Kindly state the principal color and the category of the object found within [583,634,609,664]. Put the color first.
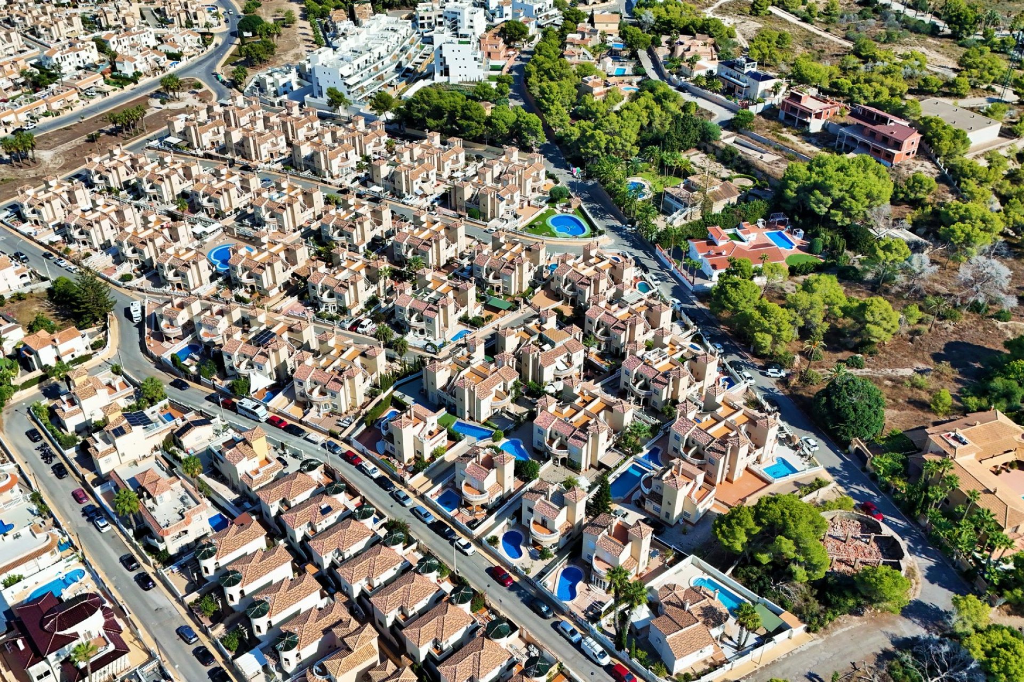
white vehicle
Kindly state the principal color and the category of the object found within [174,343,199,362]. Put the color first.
blue swimming pool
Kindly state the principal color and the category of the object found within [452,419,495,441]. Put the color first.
blue swimming pool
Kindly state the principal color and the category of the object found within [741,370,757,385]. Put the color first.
white car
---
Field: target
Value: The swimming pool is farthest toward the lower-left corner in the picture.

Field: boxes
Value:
[18,567,87,608]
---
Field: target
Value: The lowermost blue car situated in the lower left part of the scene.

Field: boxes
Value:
[174,623,199,645]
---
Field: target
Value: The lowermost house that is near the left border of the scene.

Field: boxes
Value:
[5,601,137,682]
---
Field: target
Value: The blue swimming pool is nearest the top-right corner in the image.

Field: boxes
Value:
[766,230,796,249]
